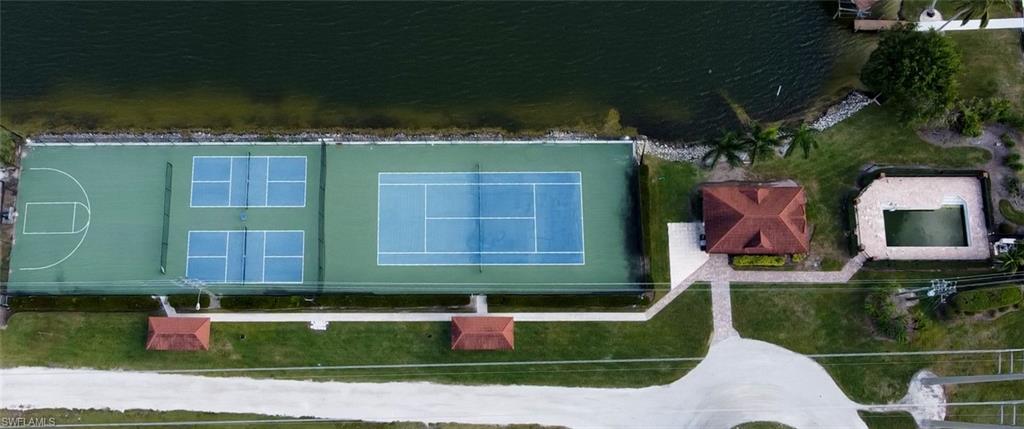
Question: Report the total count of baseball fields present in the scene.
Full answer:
Not a single baseball field can be seen.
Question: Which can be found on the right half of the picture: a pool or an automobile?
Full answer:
You can see a pool on the right half of the picture.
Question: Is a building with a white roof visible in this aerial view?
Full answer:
No, the frame has no building with a white roof in it.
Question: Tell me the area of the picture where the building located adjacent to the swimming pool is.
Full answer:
The building located adjacent to the swimming pool sits in the right section of the image.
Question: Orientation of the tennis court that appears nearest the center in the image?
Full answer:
I'd say the tennis court that appears nearest the center is aligned from left to right in the picture.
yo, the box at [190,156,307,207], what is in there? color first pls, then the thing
blue sports court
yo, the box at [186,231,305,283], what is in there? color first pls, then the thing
blue sports court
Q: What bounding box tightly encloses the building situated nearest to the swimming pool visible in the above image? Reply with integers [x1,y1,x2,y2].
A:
[697,183,810,252]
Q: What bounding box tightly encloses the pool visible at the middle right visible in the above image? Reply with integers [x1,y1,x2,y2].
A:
[860,177,990,259]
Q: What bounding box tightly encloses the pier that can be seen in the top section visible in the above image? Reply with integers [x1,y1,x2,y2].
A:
[854,19,904,33]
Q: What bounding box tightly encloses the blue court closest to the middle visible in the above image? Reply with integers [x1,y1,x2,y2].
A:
[378,172,584,265]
